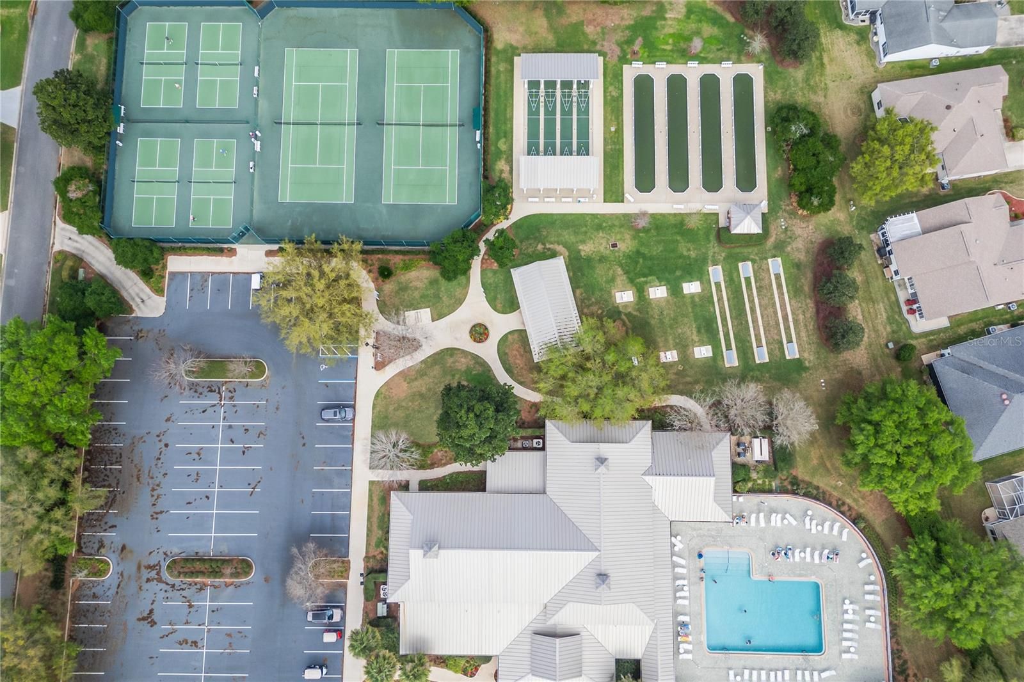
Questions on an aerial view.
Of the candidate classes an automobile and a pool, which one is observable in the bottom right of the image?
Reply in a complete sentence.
There is a pool in the bottom right of the image.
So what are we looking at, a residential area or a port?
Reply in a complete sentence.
This image shows a residential area.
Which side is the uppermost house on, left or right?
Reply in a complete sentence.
You can find the uppermost house on the right side of the picture.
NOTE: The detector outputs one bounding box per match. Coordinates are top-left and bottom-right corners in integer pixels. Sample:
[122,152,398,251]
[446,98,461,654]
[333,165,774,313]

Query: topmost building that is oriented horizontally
[847,0,999,64]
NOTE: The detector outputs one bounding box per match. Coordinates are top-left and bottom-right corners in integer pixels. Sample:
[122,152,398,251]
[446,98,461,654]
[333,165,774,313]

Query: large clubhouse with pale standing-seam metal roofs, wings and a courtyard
[386,420,733,682]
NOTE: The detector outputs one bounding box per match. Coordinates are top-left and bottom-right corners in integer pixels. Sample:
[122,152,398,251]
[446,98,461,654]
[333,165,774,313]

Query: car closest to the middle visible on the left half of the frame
[318,405,354,423]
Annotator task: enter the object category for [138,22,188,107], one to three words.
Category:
sports court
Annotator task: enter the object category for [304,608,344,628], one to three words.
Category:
car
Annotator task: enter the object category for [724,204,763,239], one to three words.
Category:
gazebo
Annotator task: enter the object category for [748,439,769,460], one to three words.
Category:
shed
